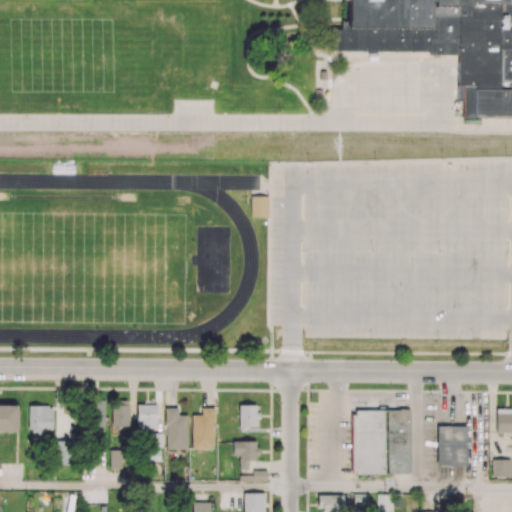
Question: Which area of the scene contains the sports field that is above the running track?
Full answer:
The sports field that is above the running track is located in the top left region of the scene.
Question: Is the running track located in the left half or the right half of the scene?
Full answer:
You can find the running track on the left side of the picture.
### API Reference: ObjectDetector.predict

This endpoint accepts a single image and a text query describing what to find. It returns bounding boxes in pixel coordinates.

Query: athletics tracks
[0,174,259,344]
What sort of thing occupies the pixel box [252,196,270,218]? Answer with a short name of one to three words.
shed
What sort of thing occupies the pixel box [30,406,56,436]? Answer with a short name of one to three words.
house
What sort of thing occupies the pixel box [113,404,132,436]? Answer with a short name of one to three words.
house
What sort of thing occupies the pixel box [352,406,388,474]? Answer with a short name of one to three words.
building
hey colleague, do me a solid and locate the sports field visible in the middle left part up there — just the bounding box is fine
[0,211,190,326]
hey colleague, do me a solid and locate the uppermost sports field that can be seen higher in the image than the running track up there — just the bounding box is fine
[9,16,117,96]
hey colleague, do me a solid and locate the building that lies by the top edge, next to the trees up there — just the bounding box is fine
[338,0,512,123]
